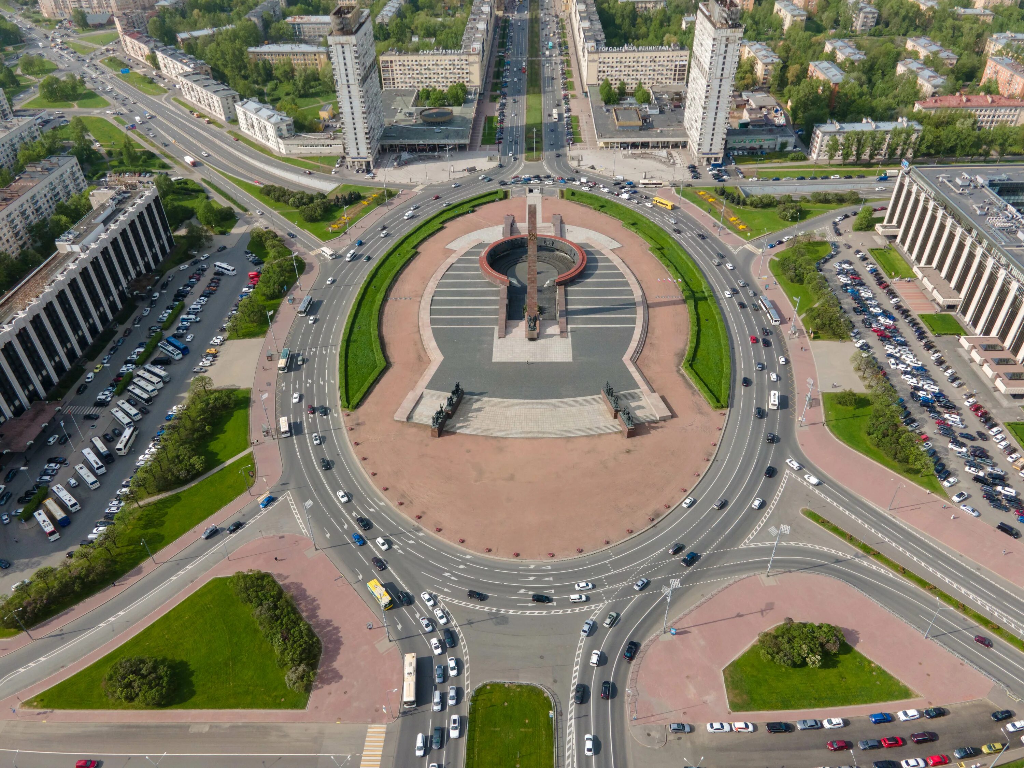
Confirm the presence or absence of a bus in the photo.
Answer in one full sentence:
Yes, a bus appears in the view.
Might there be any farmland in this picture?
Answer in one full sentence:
No, the picture contains no farmland.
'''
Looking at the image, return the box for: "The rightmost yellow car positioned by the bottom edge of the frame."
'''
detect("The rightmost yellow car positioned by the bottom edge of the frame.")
[979,742,1006,755]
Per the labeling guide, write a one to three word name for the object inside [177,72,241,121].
house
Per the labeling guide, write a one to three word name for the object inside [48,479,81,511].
bus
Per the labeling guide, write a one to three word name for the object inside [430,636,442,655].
vehicle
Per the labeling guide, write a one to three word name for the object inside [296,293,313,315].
vehicle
